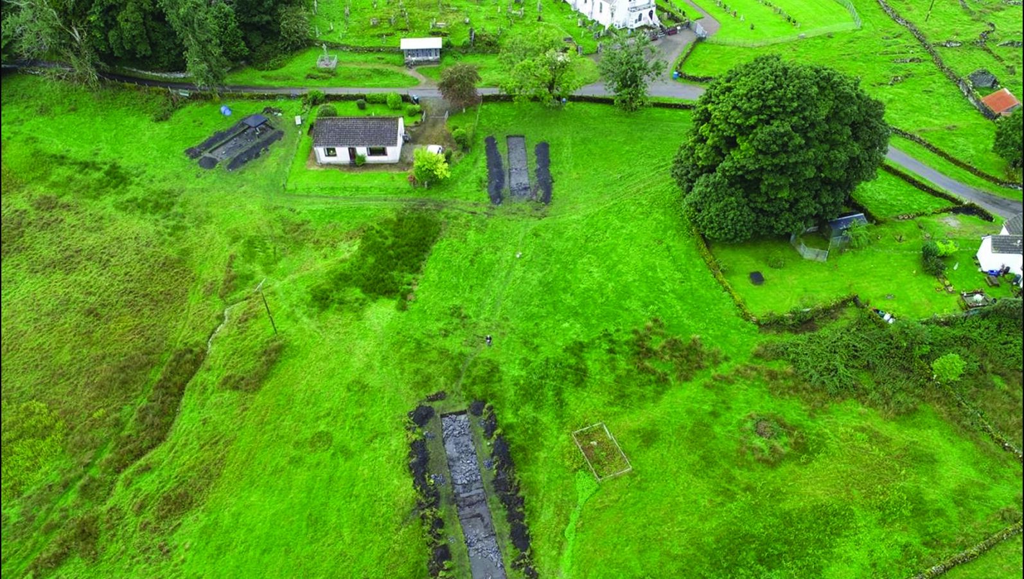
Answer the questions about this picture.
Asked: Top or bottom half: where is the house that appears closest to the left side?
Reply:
top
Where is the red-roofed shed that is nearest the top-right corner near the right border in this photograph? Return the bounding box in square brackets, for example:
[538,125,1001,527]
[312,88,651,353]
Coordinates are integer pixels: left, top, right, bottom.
[978,88,1021,122]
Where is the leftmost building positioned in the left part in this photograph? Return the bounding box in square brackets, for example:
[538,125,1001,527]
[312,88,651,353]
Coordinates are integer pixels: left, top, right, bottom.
[313,117,403,167]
